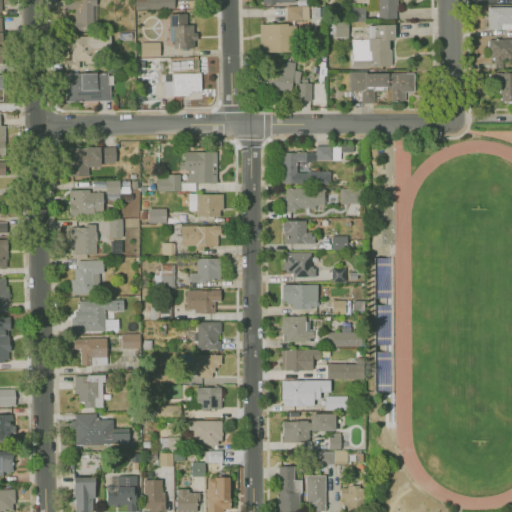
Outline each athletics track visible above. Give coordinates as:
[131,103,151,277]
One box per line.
[395,138,512,509]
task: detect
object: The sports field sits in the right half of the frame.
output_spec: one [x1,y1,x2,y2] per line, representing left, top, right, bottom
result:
[412,154,512,497]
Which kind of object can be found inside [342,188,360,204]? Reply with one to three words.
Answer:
building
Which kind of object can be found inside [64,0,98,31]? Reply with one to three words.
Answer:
house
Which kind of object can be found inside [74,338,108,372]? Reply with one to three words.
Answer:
house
